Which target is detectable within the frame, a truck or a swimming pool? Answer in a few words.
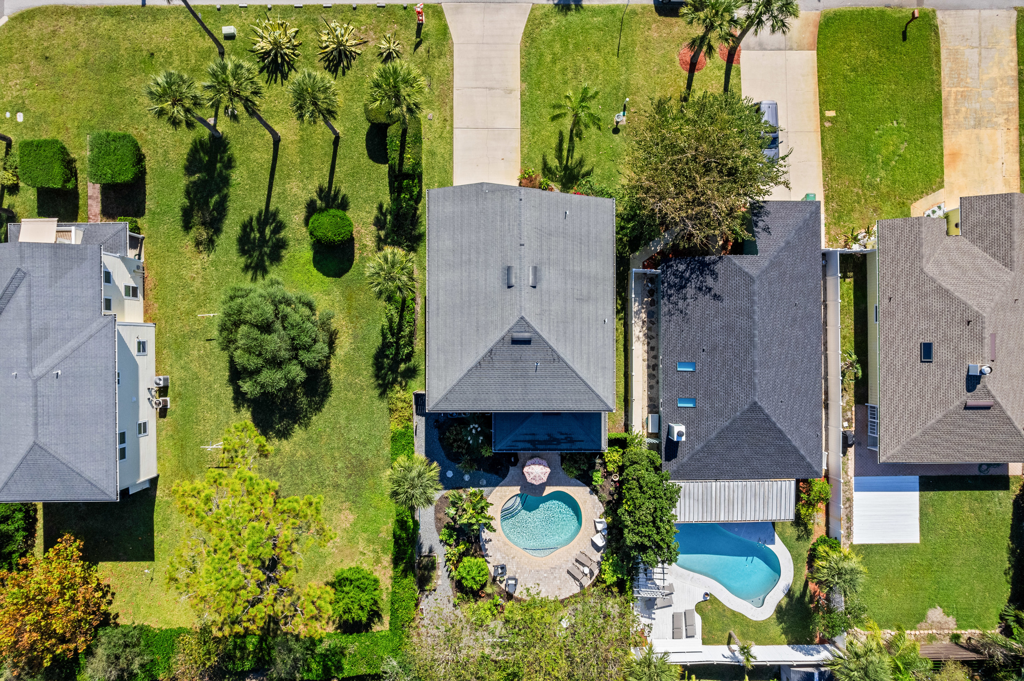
swimming pool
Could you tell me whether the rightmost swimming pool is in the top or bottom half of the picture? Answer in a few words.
bottom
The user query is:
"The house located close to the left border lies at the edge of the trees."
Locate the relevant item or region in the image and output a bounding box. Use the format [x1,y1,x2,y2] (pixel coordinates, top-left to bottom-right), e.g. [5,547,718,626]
[0,220,157,503]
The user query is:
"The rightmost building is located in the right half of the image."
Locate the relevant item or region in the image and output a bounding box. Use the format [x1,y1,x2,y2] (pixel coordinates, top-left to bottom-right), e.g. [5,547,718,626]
[867,193,1024,465]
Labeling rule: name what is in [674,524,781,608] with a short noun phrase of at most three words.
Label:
swimming pool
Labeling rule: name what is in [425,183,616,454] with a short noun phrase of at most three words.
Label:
house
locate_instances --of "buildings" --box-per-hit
[0,220,157,503]
[867,193,1024,465]
[425,183,616,454]
[777,663,830,681]
[659,200,831,480]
